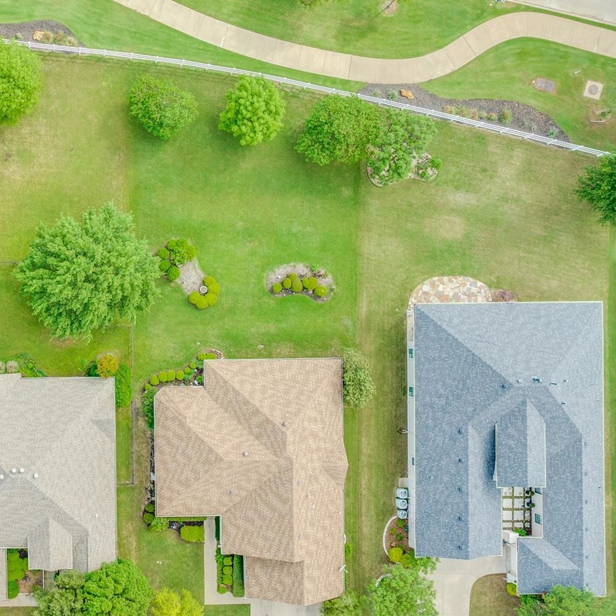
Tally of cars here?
none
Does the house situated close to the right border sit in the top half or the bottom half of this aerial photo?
bottom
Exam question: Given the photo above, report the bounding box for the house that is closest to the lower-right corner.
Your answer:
[409,303,604,600]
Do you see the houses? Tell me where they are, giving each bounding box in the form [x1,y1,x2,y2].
[0,373,117,603]
[409,303,604,600]
[154,358,348,608]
